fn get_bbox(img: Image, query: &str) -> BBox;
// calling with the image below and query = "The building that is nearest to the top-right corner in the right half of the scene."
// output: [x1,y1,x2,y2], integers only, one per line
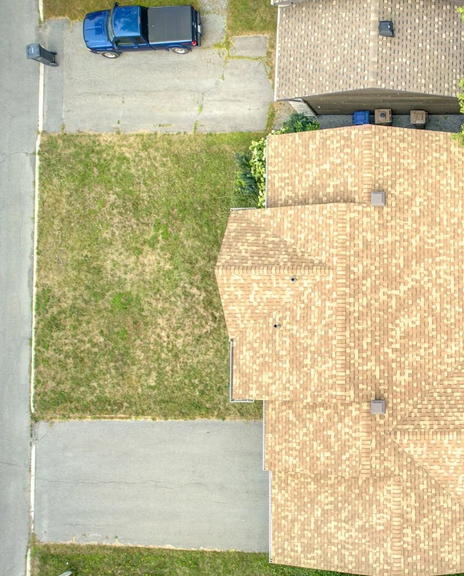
[268,0,464,114]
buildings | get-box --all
[268,0,464,114]
[216,124,464,576]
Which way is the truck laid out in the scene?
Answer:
from side to side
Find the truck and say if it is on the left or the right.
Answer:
left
